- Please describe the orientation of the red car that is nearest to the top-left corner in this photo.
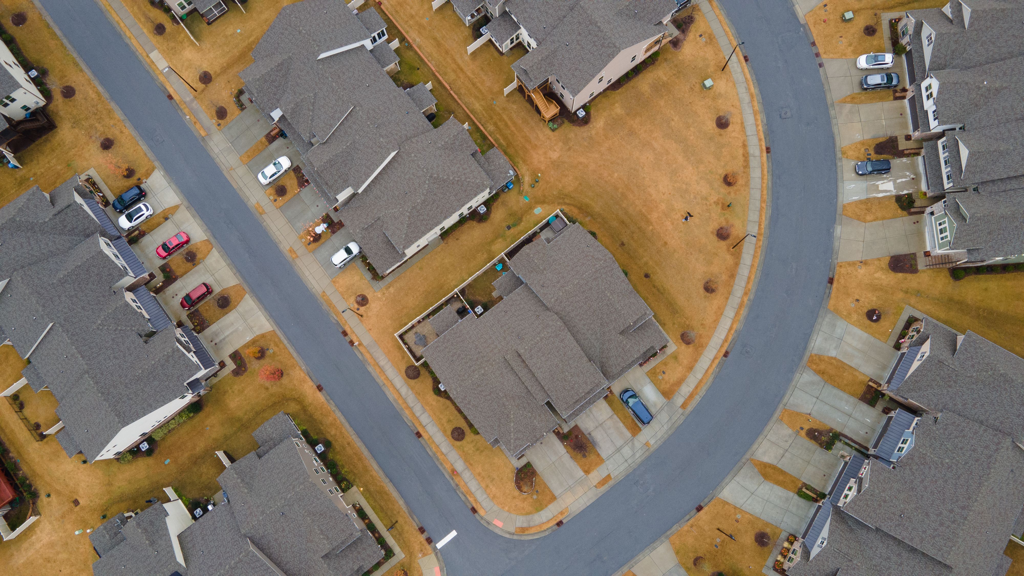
at an angle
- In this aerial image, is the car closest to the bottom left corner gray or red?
red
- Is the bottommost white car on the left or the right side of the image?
left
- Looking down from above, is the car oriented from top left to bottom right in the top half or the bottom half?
bottom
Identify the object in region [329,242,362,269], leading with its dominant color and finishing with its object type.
white car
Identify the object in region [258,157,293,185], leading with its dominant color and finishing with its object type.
white car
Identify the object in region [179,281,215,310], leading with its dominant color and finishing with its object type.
red car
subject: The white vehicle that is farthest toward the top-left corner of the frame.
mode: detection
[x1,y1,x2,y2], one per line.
[117,202,156,231]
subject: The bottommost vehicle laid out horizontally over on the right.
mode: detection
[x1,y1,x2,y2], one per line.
[854,159,892,176]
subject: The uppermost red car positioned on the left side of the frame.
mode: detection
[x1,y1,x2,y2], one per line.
[155,231,193,261]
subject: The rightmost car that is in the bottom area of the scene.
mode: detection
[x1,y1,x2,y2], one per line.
[619,387,656,429]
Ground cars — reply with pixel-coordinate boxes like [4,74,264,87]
[673,0,697,17]
[619,387,656,429]
[112,185,149,213]
[258,157,293,185]
[854,52,895,72]
[854,159,892,176]
[155,231,193,261]
[179,281,215,310]
[117,202,156,231]
[329,242,362,269]
[859,72,900,92]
